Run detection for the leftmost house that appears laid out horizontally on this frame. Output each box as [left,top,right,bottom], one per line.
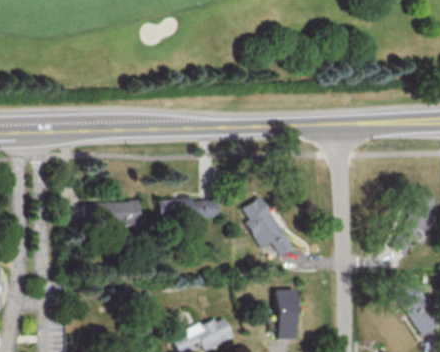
[83,200,144,228]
